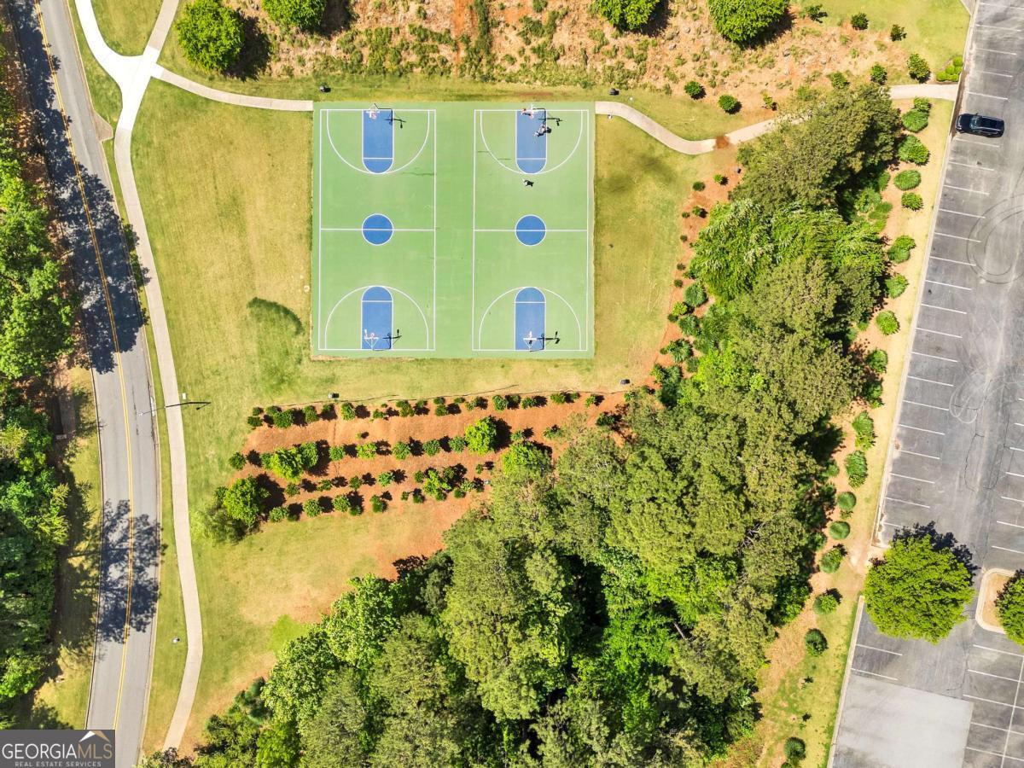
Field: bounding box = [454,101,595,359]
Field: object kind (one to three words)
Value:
basketball court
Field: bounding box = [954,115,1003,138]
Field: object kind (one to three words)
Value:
car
